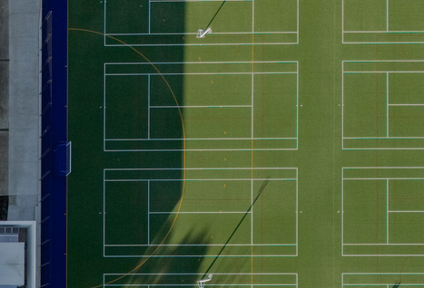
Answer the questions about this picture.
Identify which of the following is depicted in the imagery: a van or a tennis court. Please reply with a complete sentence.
The image shows a tennis court.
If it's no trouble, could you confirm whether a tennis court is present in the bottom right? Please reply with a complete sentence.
Yes, a tennis court can be seen in the bottom right.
